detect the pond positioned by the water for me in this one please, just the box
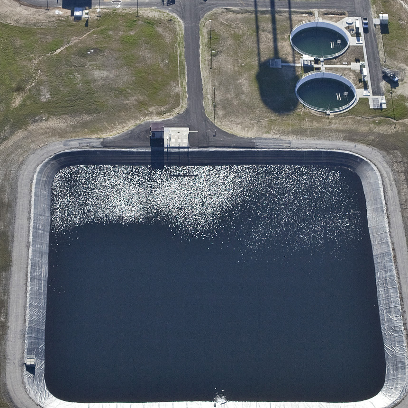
[22,148,408,408]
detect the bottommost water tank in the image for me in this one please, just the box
[293,70,362,117]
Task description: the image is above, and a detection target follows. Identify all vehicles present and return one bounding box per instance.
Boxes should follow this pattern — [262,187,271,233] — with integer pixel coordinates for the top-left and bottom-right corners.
[378,66,403,82]
[362,19,370,32]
